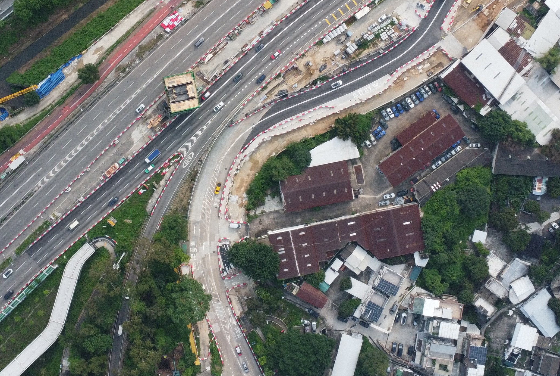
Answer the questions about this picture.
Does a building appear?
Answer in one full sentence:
Yes, the image includes a building.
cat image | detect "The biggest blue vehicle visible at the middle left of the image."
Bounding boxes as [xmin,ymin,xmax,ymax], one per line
[144,149,160,164]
